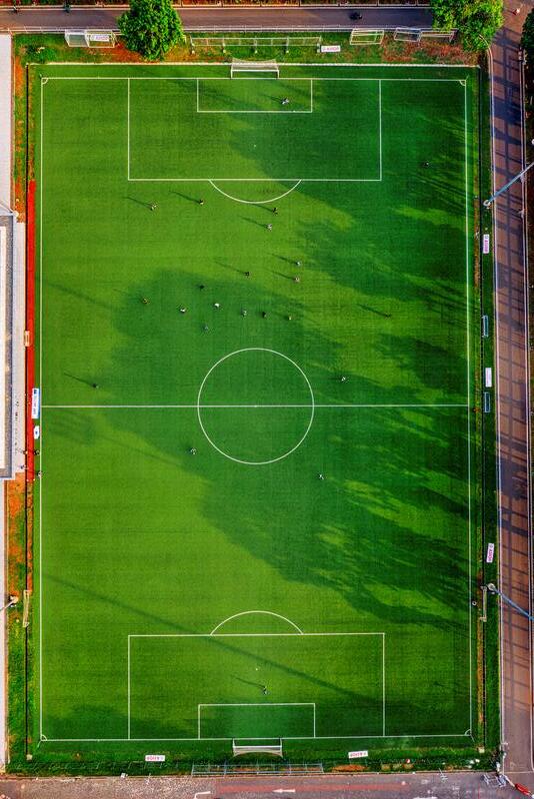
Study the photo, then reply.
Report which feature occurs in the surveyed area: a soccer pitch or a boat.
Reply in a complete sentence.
The image shows a soccer pitch.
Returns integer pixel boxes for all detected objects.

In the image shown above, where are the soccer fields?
[27,62,479,749]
